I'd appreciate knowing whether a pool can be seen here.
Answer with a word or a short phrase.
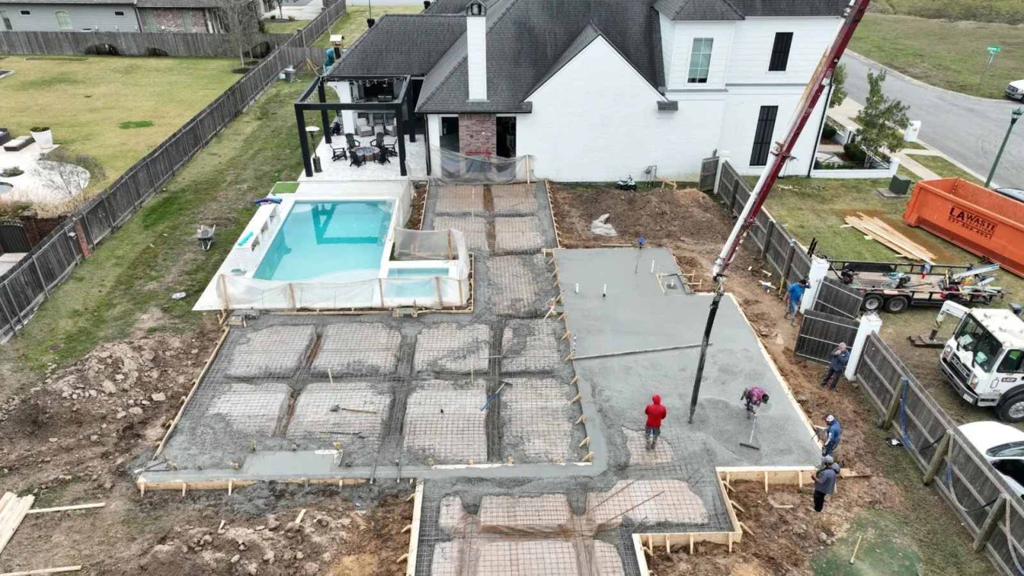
Yes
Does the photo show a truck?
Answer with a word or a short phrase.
Yes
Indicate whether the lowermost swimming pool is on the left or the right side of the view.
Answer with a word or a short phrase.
left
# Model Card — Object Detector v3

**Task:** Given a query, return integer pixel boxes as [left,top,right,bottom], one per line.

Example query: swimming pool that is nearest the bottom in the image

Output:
[232,198,463,304]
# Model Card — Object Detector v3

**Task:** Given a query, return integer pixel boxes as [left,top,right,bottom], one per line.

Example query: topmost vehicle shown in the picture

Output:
[1001,80,1024,101]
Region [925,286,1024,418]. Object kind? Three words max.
truck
